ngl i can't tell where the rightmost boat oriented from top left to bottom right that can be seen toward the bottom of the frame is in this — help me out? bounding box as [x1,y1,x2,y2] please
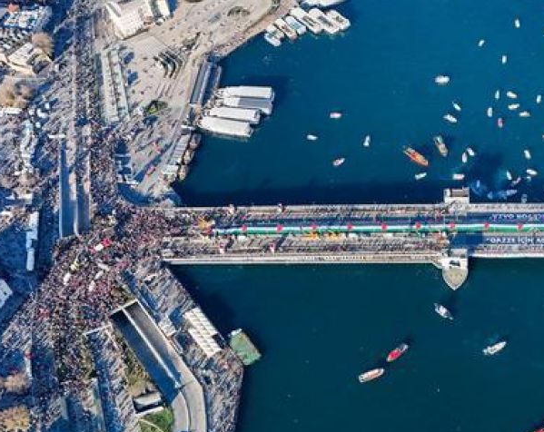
[435,302,451,318]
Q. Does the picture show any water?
Yes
